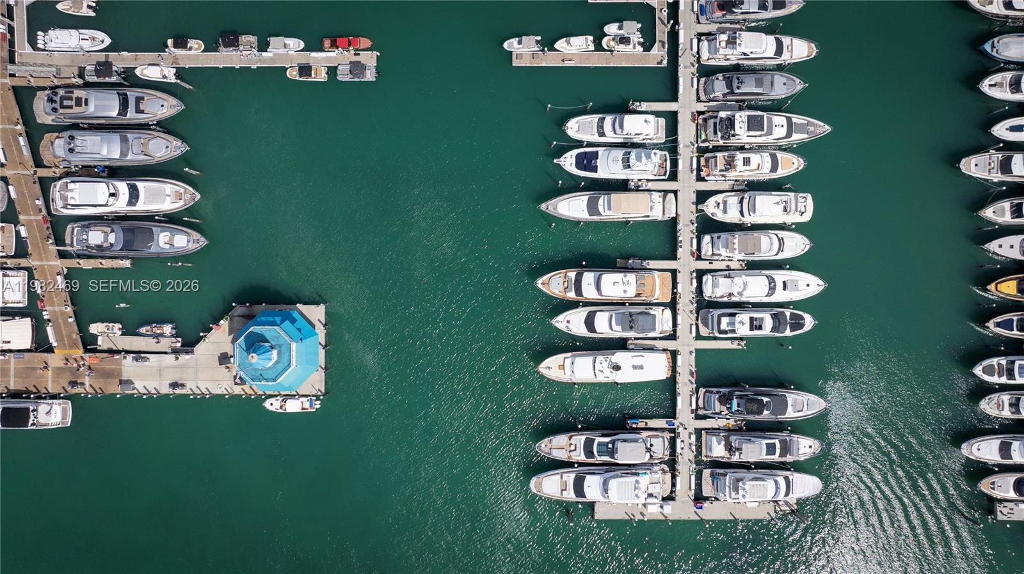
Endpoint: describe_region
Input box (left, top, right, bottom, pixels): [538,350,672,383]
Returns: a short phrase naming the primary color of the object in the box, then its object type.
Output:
white boat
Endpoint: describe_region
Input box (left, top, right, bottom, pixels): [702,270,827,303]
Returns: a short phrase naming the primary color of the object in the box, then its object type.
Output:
white boat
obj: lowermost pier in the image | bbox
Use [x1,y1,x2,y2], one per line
[990,499,1024,520]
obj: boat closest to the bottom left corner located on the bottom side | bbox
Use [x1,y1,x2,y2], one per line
[0,398,72,430]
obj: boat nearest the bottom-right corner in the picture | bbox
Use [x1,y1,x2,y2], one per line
[977,472,1024,501]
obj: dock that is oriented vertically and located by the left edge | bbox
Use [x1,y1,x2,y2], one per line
[0,0,133,353]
